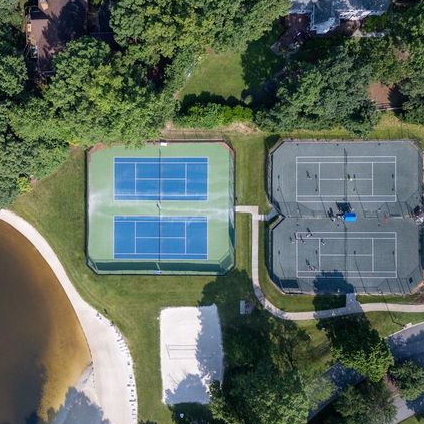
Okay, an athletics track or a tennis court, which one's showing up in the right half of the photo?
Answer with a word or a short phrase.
tennis court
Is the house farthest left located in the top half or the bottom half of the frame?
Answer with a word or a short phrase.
top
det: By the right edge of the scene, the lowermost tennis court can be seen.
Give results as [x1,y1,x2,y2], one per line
[273,217,422,293]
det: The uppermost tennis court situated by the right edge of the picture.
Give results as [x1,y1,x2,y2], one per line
[275,142,422,217]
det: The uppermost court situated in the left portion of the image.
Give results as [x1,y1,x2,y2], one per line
[89,143,233,209]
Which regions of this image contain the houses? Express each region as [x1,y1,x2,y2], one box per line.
[22,0,89,61]
[280,0,394,39]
